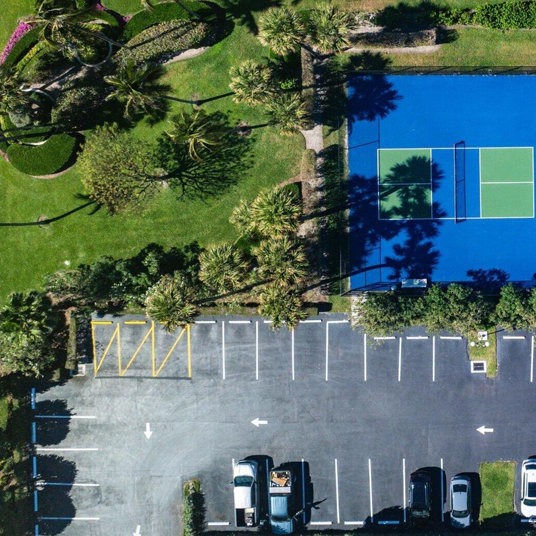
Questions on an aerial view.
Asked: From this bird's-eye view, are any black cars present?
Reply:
Yes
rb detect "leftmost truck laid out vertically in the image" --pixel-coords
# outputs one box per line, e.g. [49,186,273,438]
[229,458,260,529]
